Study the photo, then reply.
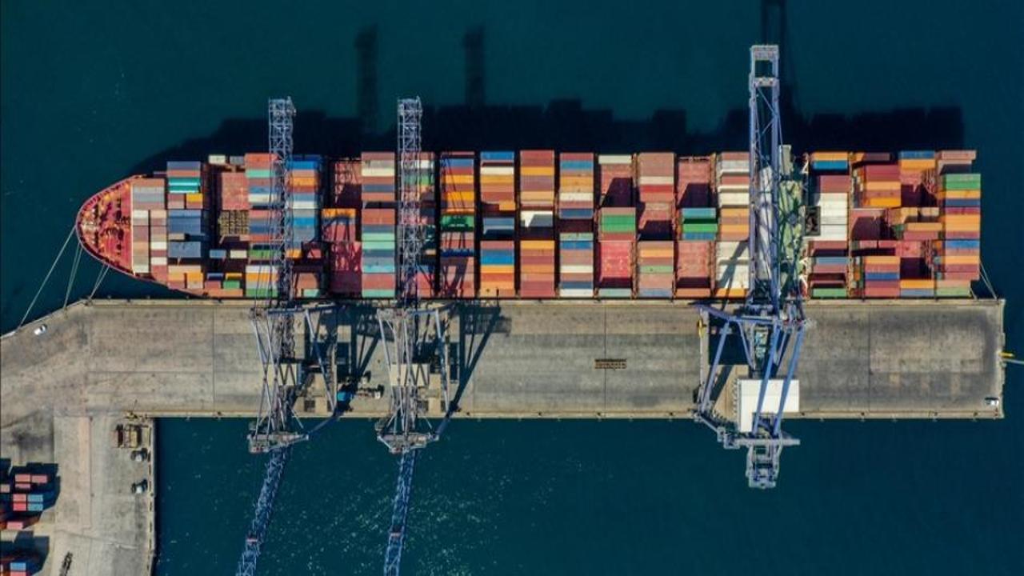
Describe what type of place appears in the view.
port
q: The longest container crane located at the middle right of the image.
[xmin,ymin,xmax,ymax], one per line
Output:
[687,44,807,492]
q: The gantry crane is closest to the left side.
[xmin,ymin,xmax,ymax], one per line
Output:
[227,97,344,576]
